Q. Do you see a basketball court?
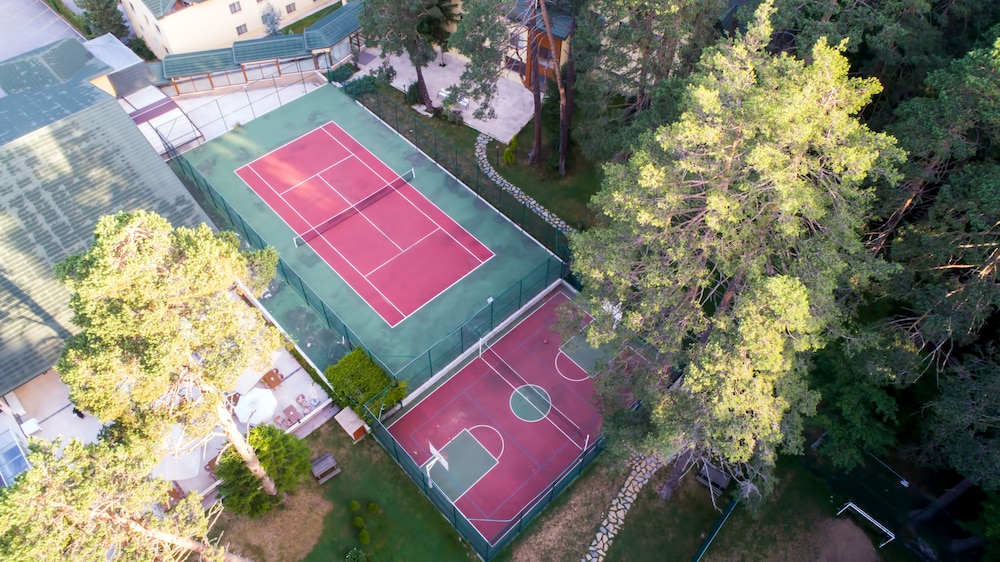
Yes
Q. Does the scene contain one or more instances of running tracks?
No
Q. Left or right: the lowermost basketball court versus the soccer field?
on its left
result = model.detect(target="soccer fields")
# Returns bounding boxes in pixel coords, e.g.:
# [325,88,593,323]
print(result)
[727,455,937,562]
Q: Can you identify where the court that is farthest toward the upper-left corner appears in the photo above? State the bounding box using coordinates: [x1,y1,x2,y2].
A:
[169,82,572,395]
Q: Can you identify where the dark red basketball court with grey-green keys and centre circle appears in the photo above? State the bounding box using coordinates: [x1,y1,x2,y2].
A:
[377,282,677,557]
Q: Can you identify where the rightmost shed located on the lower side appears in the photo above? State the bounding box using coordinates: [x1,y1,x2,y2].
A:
[330,407,365,445]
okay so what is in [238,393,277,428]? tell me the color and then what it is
white umbrella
